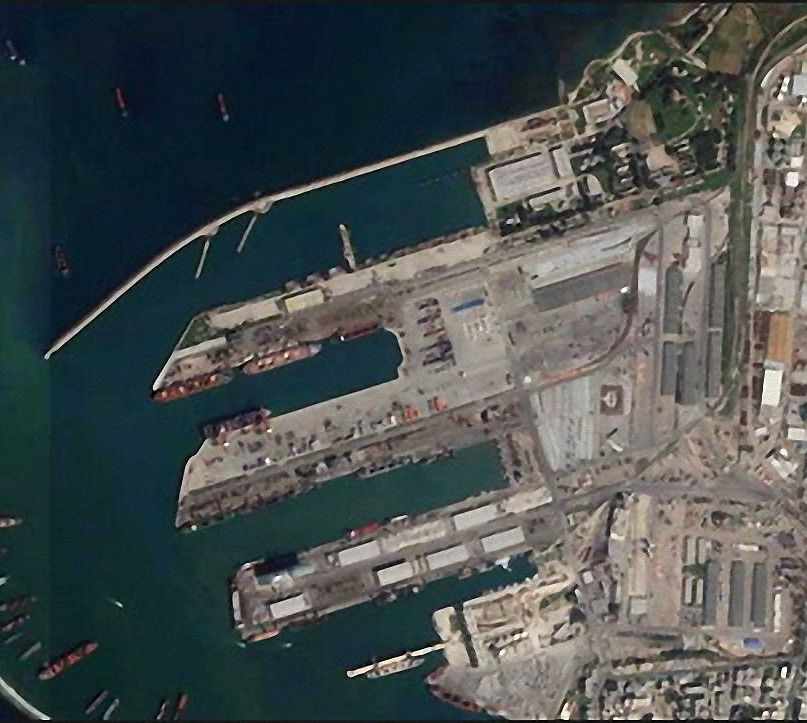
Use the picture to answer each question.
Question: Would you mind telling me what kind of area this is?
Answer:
port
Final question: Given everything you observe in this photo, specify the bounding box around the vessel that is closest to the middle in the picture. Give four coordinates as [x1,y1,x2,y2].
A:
[338,324,379,341]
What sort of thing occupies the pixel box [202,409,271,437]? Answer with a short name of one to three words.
ship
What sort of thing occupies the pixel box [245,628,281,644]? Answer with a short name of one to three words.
ship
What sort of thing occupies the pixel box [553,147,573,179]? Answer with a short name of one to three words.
building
